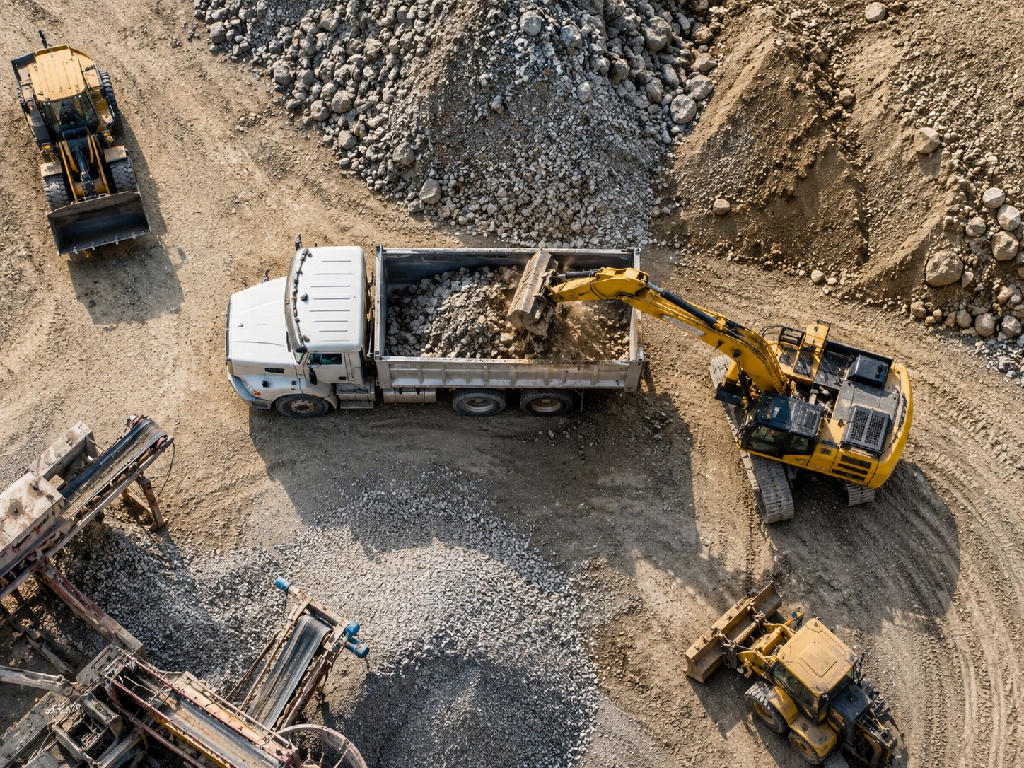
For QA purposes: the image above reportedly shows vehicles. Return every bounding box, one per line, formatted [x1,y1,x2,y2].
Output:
[674,577,899,768]
[19,29,155,260]
[510,244,913,523]
[220,233,646,415]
